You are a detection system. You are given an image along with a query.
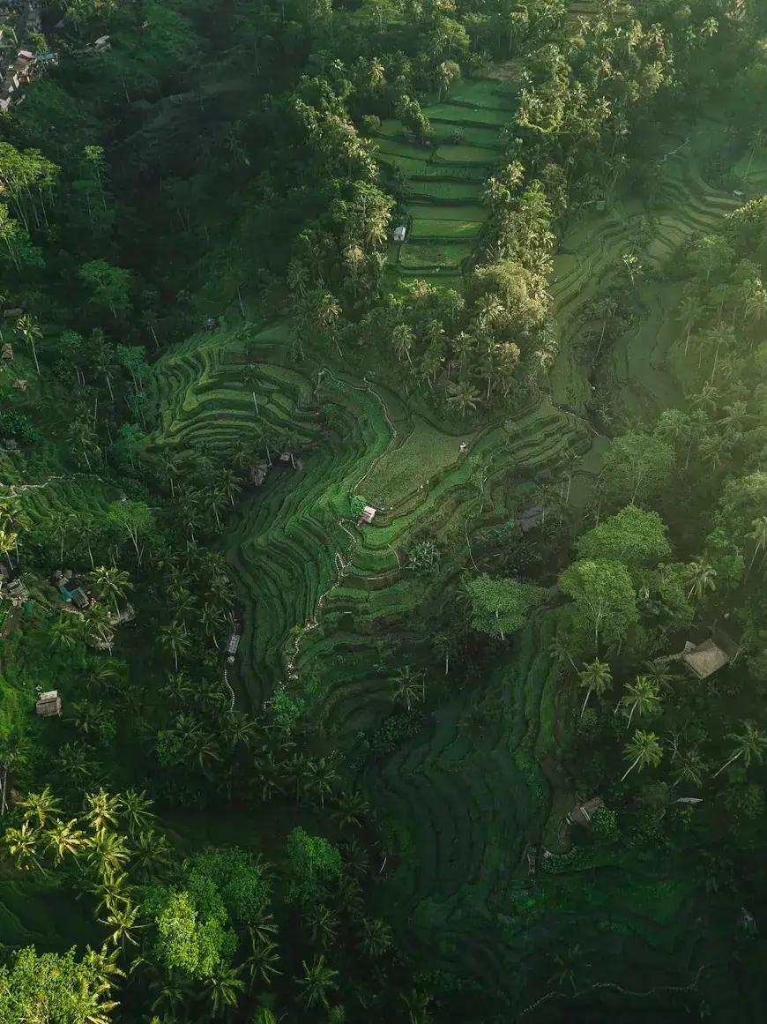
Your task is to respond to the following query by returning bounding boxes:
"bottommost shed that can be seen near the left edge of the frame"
[35,691,66,722]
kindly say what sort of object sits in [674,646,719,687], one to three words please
building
